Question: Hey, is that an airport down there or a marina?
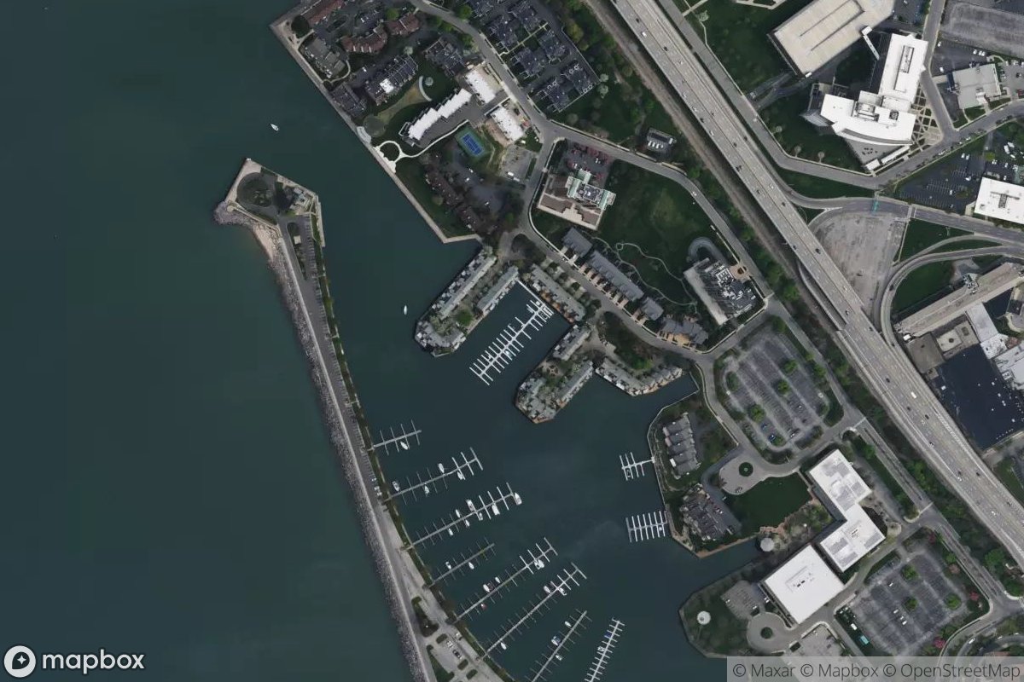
marina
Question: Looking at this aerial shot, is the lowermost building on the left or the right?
right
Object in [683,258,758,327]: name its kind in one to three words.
building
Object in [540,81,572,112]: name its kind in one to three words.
house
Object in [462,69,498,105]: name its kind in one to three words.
building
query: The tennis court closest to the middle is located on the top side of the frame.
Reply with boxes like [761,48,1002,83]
[455,125,490,160]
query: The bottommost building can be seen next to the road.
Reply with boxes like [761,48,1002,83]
[762,545,844,624]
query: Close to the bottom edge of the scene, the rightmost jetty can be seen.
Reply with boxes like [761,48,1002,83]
[586,619,625,682]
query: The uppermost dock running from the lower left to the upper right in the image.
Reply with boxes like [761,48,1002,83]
[470,300,553,386]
